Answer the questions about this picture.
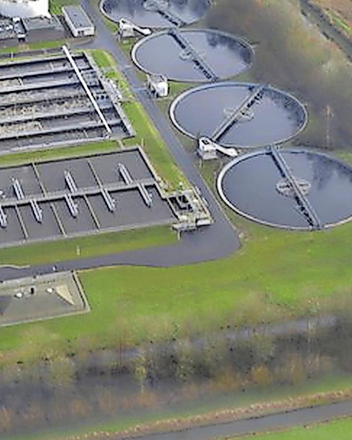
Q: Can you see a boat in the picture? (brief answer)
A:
No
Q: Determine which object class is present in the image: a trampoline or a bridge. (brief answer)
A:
bridge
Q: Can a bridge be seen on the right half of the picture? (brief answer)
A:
Yes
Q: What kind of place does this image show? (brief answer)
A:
industrial area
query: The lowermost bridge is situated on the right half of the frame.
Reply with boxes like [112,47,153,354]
[269,141,322,230]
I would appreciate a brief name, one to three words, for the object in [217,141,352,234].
storage tank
